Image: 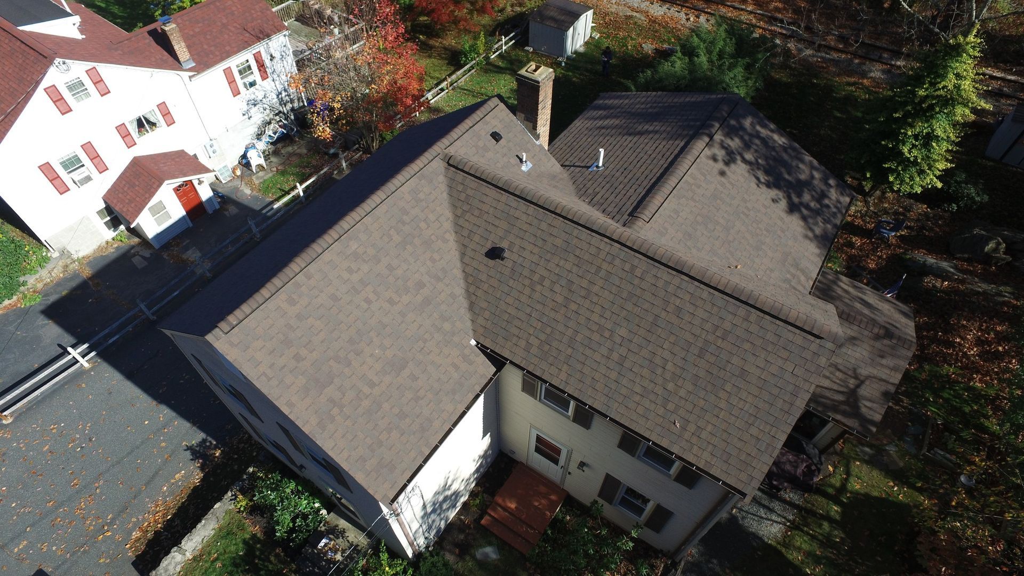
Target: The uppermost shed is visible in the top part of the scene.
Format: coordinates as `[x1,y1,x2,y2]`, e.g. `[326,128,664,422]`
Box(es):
[529,0,596,57]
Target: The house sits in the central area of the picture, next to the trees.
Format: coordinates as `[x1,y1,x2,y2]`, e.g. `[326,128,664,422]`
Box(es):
[155,62,920,563]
